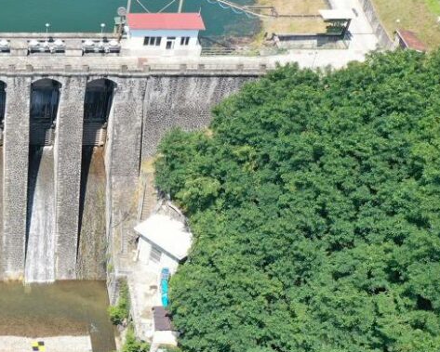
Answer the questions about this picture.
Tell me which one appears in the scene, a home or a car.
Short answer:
home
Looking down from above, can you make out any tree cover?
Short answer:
Yes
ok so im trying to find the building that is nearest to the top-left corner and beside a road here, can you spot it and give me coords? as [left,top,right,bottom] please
[117,5,210,57]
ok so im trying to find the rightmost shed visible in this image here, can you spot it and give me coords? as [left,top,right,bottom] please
[390,28,425,64]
